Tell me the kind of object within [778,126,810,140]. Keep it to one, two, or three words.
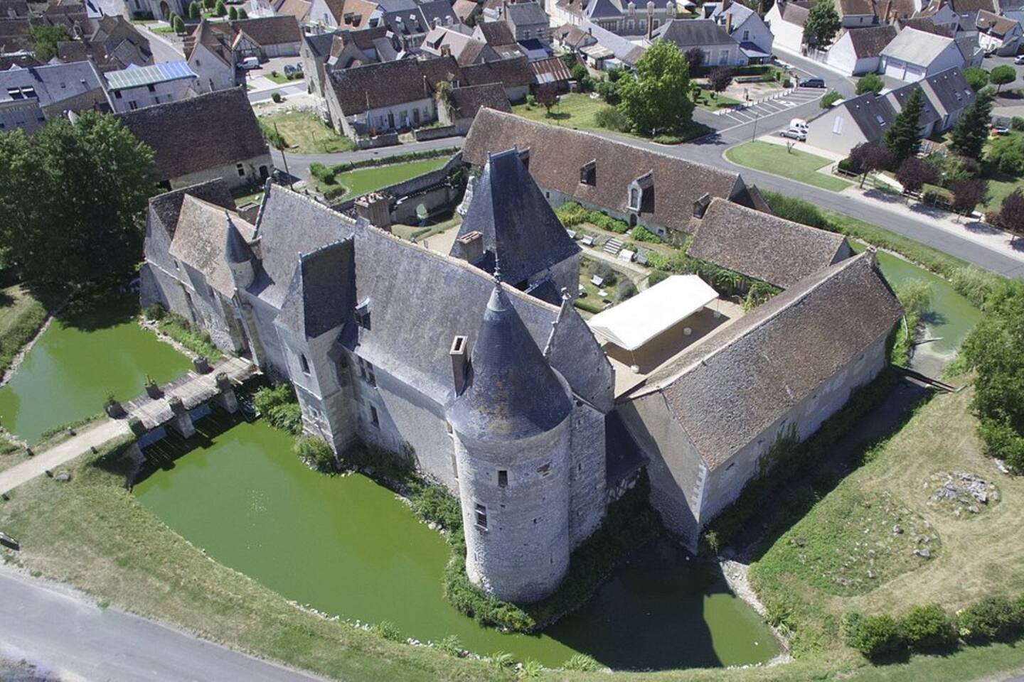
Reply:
car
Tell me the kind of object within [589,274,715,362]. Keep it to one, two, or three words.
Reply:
tent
